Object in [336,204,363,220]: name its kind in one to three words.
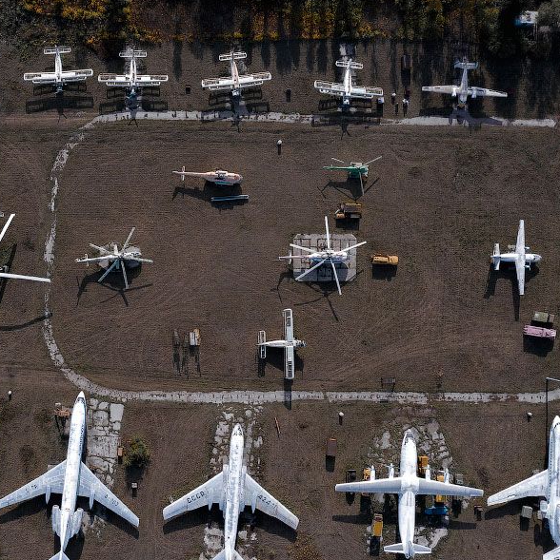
work vehicle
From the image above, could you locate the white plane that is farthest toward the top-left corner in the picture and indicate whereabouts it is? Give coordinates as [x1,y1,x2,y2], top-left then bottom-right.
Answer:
[22,47,92,91]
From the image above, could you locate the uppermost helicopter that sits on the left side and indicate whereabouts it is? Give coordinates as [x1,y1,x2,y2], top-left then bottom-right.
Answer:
[171,167,242,185]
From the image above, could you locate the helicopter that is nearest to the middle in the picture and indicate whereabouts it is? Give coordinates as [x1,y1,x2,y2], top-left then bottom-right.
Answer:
[277,216,368,295]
